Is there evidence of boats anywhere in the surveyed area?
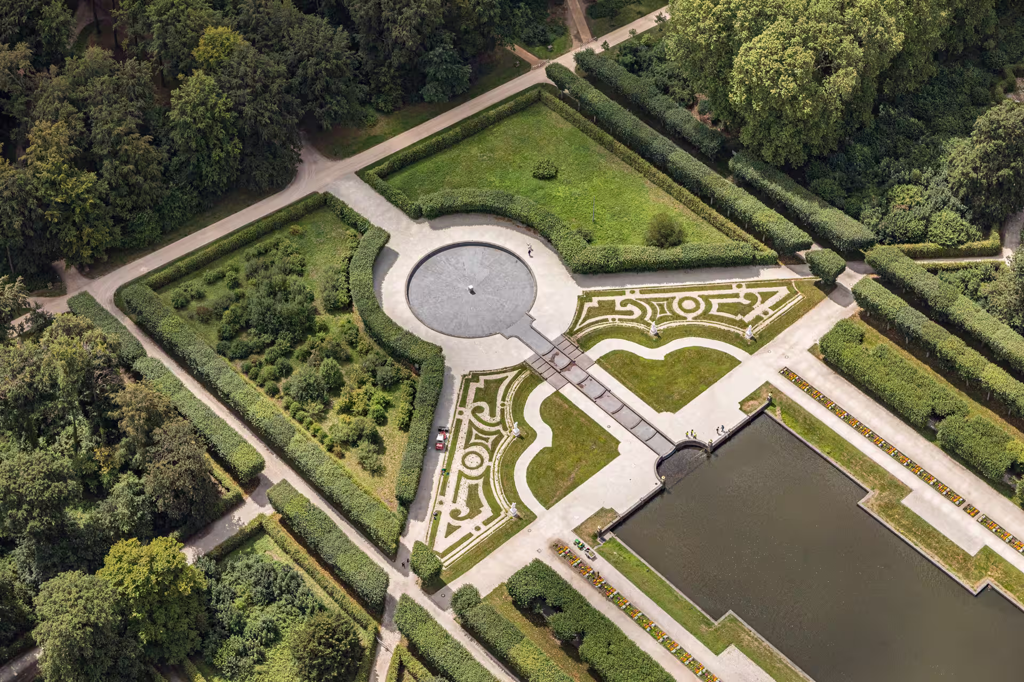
No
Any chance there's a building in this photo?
No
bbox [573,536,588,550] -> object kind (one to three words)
work vehicle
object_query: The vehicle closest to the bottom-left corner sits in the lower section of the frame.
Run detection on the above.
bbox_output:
[434,424,447,447]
